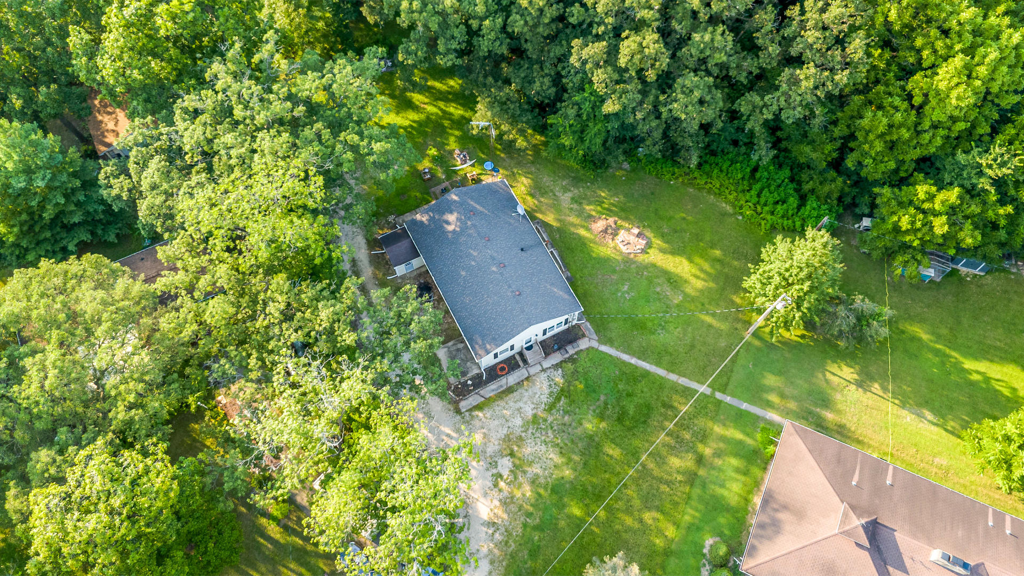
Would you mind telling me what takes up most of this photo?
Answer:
trees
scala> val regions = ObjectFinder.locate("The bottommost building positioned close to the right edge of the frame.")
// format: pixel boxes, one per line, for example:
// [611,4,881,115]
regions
[723,418,1024,576]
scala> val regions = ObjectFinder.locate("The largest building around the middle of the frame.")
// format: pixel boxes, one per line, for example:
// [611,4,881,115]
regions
[375,178,585,379]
